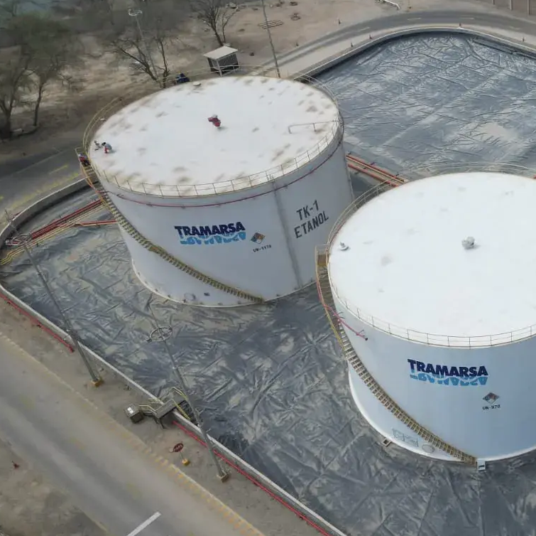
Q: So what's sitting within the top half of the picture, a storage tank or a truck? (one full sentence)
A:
Visible within the top half of the picture is a storage tank.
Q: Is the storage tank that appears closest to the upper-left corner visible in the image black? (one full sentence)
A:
No, the storage tank that appears closest to the upper-left corner is white.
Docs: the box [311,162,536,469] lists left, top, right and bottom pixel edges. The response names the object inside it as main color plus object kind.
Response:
white storage tank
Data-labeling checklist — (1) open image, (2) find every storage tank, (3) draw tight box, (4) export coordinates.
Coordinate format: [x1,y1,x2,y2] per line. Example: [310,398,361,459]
[311,162,536,469]
[72,68,358,307]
